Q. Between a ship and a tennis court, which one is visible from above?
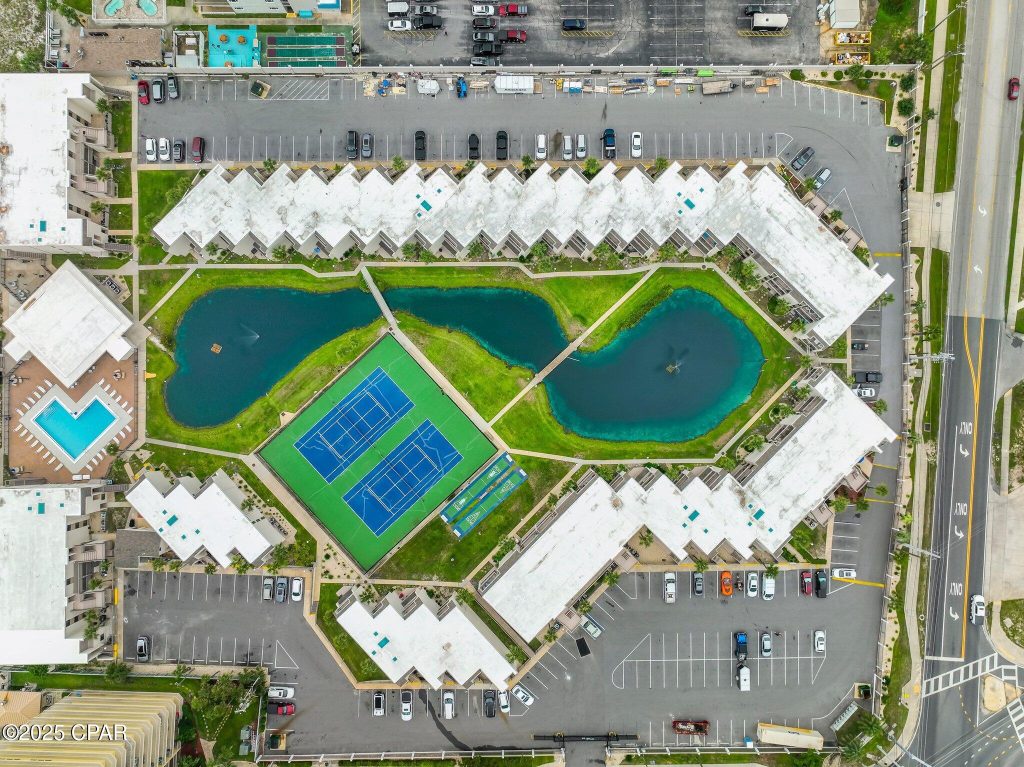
tennis court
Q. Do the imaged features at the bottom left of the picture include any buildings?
Yes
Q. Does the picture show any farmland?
No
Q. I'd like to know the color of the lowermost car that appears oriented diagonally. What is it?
white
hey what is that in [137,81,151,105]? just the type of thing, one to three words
car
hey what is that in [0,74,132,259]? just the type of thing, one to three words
building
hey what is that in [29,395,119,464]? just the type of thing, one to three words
swimming pool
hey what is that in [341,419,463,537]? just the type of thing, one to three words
tennis court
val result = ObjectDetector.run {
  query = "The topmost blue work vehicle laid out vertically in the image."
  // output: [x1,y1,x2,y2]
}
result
[456,73,468,98]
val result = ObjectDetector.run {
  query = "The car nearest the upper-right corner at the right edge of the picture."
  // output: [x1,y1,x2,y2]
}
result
[1006,77,1020,102]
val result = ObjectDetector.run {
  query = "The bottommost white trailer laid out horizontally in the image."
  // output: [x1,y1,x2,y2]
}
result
[753,720,823,749]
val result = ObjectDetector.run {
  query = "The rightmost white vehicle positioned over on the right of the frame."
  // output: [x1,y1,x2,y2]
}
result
[969,594,985,625]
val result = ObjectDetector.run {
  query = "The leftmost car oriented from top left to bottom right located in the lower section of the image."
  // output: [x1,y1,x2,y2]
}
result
[512,683,533,706]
